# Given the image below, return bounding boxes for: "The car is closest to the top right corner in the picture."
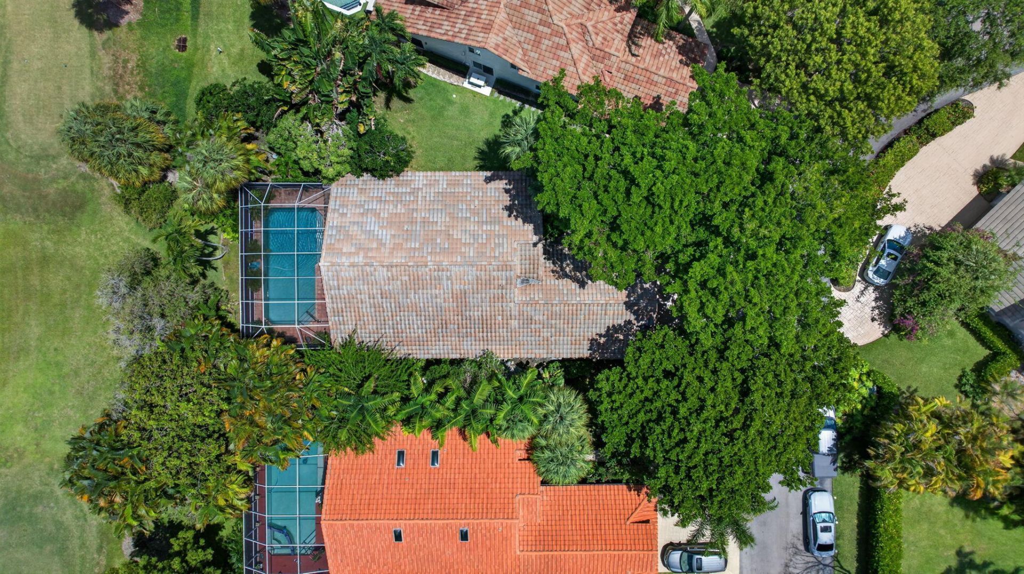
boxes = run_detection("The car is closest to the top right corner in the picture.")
[861,222,912,290]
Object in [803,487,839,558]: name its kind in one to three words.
car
